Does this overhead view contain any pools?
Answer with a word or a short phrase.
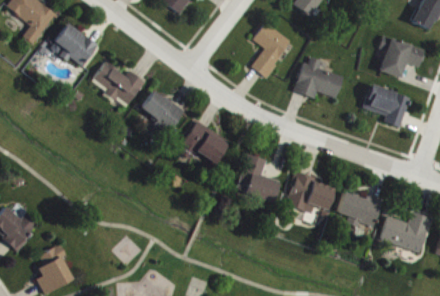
Yes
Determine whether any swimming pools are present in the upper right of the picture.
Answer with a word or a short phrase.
No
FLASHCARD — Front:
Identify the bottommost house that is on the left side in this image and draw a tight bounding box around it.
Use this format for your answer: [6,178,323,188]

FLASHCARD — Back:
[38,246,74,295]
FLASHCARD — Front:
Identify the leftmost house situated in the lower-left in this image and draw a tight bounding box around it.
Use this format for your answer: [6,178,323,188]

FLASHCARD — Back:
[0,208,33,252]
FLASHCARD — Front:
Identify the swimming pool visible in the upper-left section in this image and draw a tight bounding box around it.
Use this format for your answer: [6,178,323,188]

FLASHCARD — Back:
[32,47,81,85]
